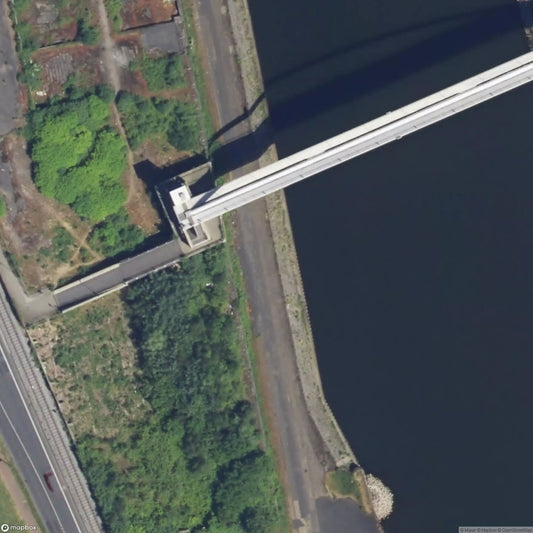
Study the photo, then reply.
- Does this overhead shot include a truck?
No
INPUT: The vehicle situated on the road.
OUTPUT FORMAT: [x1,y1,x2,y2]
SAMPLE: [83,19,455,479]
[44,473,58,492]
